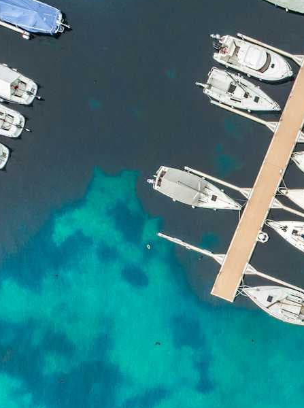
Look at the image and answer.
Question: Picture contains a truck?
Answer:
No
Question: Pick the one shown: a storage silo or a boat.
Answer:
boat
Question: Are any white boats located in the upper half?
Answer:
Yes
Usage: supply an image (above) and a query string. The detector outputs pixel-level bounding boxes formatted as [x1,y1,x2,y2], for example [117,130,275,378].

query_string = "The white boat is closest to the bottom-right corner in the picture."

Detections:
[237,285,304,325]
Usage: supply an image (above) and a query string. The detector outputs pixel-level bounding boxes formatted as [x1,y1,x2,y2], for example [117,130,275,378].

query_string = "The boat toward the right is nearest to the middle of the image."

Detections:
[152,164,240,214]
